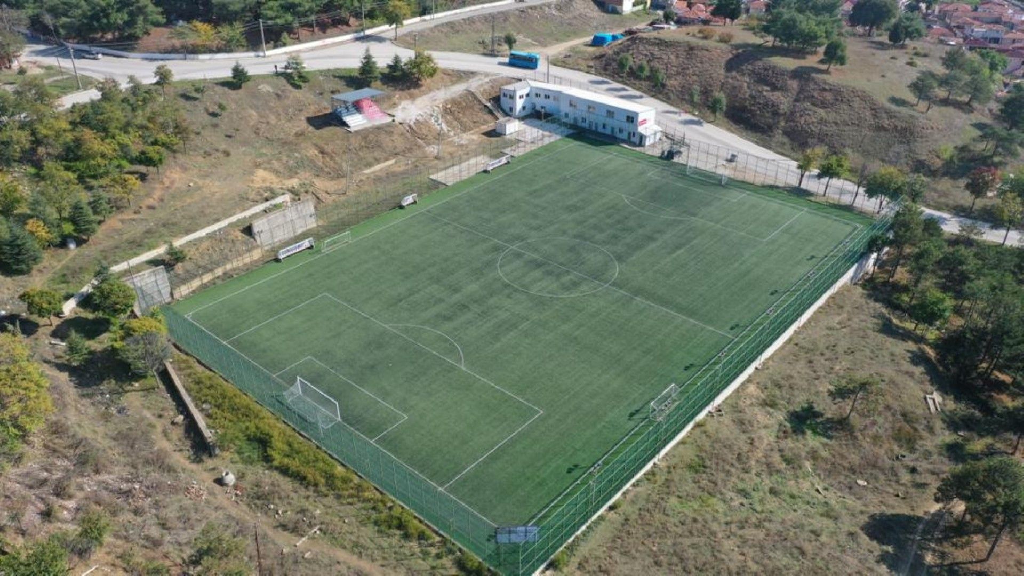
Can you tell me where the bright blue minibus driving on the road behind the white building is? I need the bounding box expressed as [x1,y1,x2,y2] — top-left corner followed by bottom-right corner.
[506,54,540,70]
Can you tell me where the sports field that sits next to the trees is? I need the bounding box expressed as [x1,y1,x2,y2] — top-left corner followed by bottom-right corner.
[144,136,895,576]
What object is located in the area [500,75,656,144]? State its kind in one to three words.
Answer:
building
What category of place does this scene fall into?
sports ground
